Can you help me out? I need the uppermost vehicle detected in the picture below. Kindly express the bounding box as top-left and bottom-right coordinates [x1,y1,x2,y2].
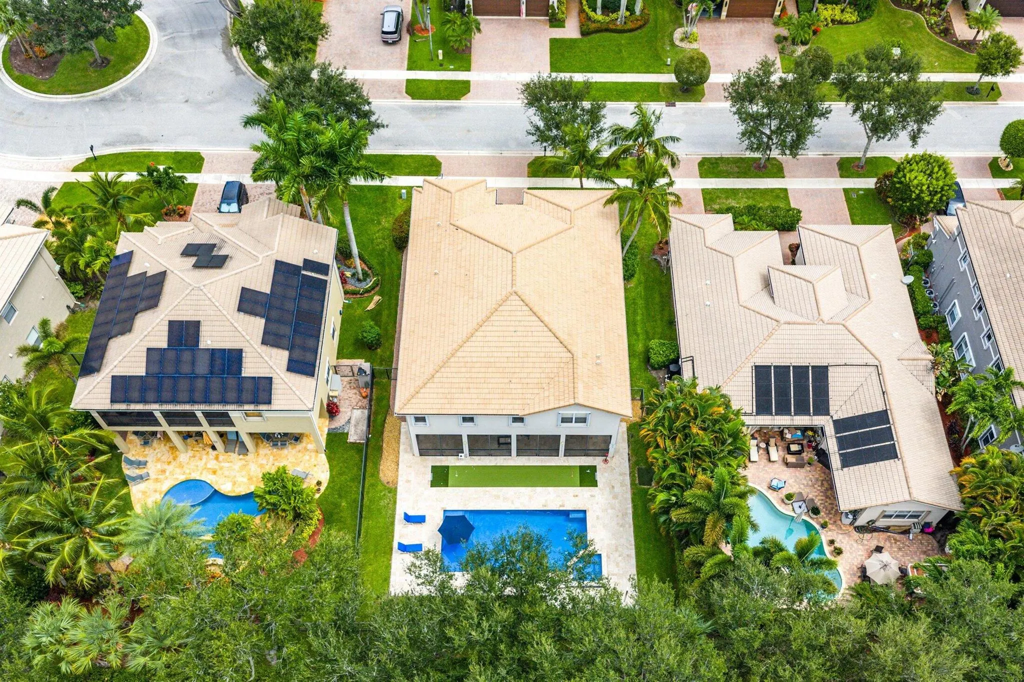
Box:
[381,4,404,39]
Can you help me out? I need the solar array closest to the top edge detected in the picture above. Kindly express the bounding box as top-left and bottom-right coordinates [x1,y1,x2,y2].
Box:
[182,243,229,266]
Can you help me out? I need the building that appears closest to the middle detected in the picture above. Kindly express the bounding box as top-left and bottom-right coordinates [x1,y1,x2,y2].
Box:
[394,177,634,458]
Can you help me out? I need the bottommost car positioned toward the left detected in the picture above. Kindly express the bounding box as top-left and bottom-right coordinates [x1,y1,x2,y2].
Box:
[221,178,252,211]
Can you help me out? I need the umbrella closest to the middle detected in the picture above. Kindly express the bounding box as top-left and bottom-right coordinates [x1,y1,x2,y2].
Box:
[436,510,478,545]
